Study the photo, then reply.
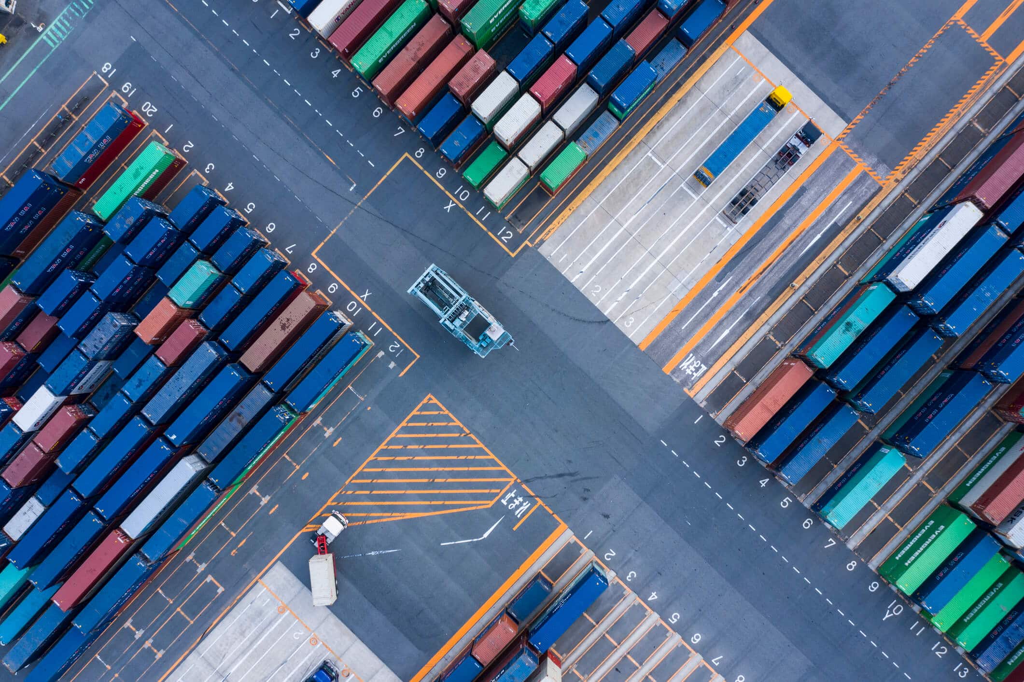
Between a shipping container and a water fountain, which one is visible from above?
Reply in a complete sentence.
This aerial view contains a shipping container.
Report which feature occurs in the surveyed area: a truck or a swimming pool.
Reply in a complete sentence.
Of the two, only a truck appears.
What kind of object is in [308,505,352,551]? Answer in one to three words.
truck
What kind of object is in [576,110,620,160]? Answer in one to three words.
shipping container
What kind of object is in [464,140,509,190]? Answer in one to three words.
shipping container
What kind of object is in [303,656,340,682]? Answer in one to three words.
truck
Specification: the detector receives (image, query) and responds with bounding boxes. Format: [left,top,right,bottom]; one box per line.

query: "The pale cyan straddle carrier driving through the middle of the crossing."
[407,263,512,361]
